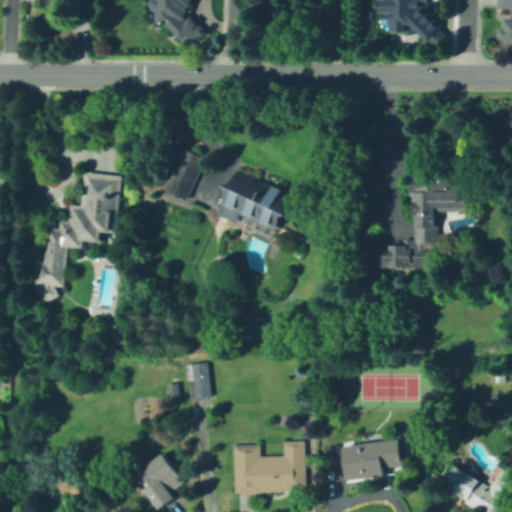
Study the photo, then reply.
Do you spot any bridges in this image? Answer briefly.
No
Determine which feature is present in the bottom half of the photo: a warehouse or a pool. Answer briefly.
pool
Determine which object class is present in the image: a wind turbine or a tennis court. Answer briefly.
tennis court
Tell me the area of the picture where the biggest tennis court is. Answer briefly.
bottom right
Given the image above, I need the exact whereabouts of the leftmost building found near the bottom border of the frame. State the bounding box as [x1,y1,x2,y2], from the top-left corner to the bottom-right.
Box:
[140,454,186,510]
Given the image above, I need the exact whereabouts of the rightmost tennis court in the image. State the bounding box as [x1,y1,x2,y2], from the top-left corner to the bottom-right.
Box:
[354,366,430,410]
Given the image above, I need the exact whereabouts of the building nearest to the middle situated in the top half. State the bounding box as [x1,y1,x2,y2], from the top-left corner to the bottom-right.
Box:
[215,172,289,228]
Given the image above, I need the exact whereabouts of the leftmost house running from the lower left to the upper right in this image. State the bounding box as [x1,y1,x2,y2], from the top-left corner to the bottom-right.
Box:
[34,173,120,302]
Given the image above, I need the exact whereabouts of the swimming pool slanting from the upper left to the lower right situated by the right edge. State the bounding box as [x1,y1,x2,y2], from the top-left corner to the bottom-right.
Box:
[472,444,499,474]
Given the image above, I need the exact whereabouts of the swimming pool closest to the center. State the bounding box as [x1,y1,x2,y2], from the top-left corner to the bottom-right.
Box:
[246,236,270,274]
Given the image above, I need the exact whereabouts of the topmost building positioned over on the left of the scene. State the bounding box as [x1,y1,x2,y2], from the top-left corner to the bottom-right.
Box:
[146,0,200,41]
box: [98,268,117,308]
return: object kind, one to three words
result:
swimming pool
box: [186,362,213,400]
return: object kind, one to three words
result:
shed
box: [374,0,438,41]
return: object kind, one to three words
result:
house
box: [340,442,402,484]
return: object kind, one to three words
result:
house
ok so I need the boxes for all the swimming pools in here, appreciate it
[472,444,499,474]
[98,268,117,308]
[246,236,270,274]
[450,218,476,232]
